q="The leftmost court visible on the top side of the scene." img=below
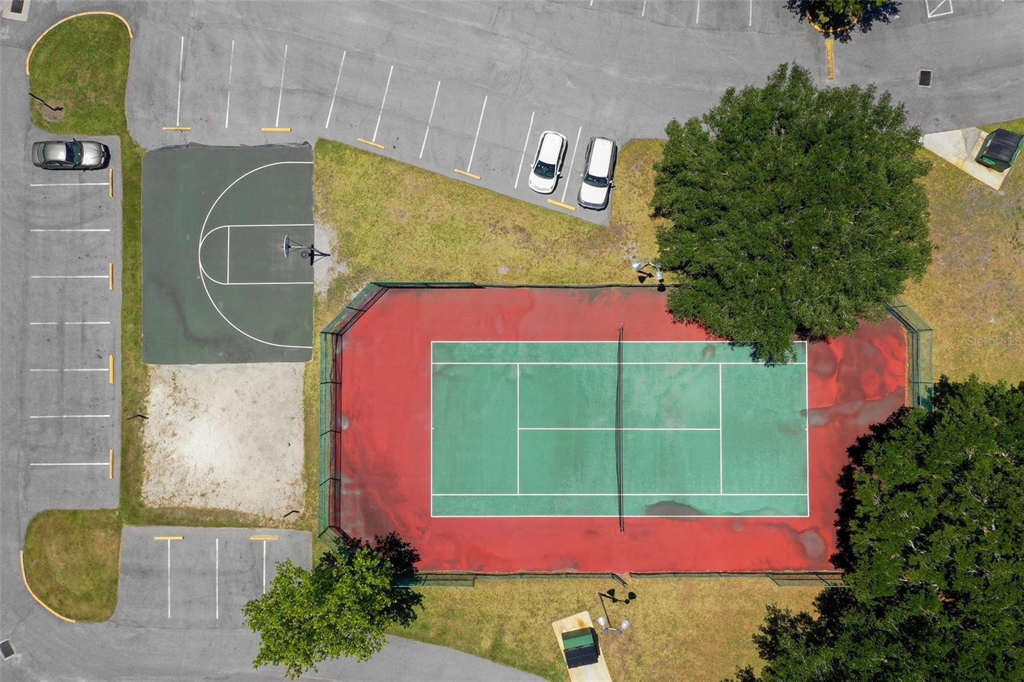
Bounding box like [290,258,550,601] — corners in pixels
[142,144,313,364]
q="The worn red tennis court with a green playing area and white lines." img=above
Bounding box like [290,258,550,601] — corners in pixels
[332,287,906,573]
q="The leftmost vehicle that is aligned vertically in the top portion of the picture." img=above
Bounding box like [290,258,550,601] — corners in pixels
[530,129,567,196]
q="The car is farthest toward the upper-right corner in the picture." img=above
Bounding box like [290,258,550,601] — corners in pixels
[579,135,618,212]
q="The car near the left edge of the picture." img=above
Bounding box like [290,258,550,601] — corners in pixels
[32,137,109,171]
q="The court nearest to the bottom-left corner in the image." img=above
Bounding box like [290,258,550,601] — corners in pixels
[141,362,306,518]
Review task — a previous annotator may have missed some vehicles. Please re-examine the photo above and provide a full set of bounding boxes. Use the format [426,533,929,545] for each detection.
[32,137,109,171]
[530,129,567,196]
[579,135,618,212]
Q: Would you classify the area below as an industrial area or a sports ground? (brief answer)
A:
sports ground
